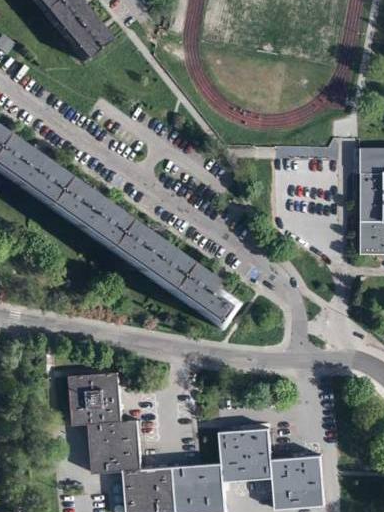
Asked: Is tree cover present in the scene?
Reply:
Yes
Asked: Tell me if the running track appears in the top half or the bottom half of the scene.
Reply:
top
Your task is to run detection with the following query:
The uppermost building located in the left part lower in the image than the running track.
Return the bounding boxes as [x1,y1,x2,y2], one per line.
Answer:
[0,126,238,323]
